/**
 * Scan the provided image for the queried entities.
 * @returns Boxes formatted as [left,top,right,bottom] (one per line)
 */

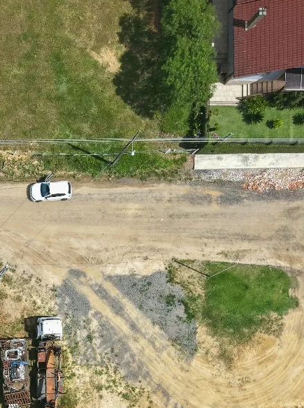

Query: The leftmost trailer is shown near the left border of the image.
[3,336,34,406]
